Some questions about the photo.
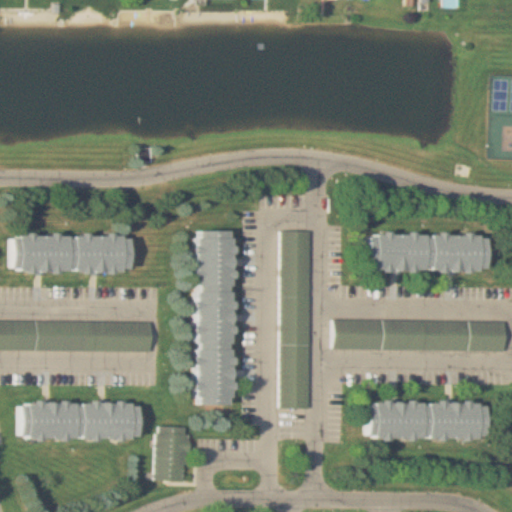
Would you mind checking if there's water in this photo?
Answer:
Yes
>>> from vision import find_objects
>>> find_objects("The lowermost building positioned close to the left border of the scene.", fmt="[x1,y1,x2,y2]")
[15,401,144,442]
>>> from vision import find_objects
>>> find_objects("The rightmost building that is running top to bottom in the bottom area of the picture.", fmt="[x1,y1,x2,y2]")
[277,231,310,408]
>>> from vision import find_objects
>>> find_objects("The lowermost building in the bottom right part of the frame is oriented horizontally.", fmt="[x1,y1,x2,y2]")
[362,401,492,442]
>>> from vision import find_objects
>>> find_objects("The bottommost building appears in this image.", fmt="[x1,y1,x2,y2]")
[146,427,187,482]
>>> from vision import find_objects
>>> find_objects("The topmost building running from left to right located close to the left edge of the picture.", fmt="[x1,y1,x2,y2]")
[7,234,136,274]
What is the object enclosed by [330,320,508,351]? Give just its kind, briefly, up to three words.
building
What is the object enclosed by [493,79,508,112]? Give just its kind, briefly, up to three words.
sports court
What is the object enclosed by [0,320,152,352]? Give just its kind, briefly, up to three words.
building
